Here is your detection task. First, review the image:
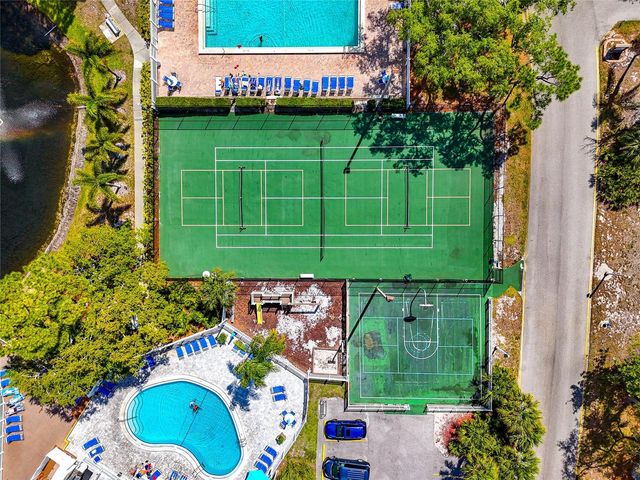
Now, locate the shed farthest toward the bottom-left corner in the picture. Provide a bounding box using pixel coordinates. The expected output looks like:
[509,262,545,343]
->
[32,436,89,480]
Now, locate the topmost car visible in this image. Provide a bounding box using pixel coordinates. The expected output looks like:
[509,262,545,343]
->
[326,420,368,442]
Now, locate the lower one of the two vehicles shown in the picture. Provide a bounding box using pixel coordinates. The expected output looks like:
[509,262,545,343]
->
[325,458,370,480]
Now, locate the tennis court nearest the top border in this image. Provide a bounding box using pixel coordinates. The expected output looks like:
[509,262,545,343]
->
[158,113,492,280]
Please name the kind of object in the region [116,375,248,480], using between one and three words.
swimming pool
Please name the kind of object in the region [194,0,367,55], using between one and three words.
swimming pool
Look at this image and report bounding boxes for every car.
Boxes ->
[325,458,370,480]
[326,420,368,442]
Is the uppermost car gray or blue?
blue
